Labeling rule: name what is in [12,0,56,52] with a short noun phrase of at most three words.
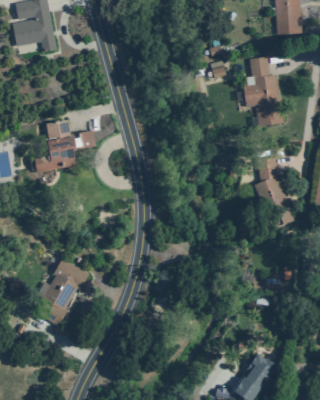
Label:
house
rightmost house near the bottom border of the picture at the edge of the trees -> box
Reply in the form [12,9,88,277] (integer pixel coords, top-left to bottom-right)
[234,355,275,400]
